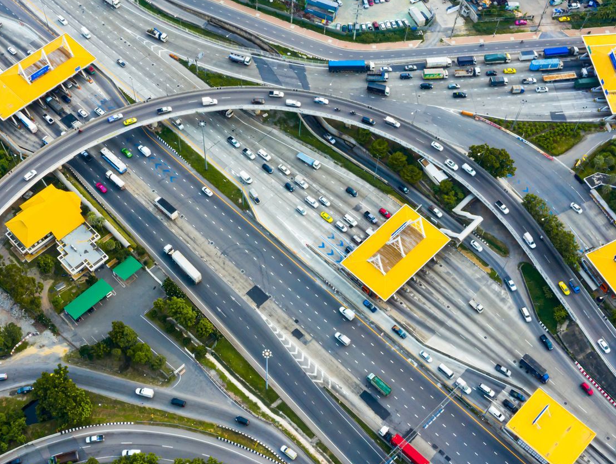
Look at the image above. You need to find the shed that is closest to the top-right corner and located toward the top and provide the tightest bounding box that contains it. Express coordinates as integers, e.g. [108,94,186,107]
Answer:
[417,158,447,190]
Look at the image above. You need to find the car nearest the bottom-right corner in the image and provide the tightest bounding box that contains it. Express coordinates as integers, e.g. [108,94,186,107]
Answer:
[579,380,594,396]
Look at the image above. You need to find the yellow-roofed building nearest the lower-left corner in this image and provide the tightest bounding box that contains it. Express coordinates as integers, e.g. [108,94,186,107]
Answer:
[4,184,109,281]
